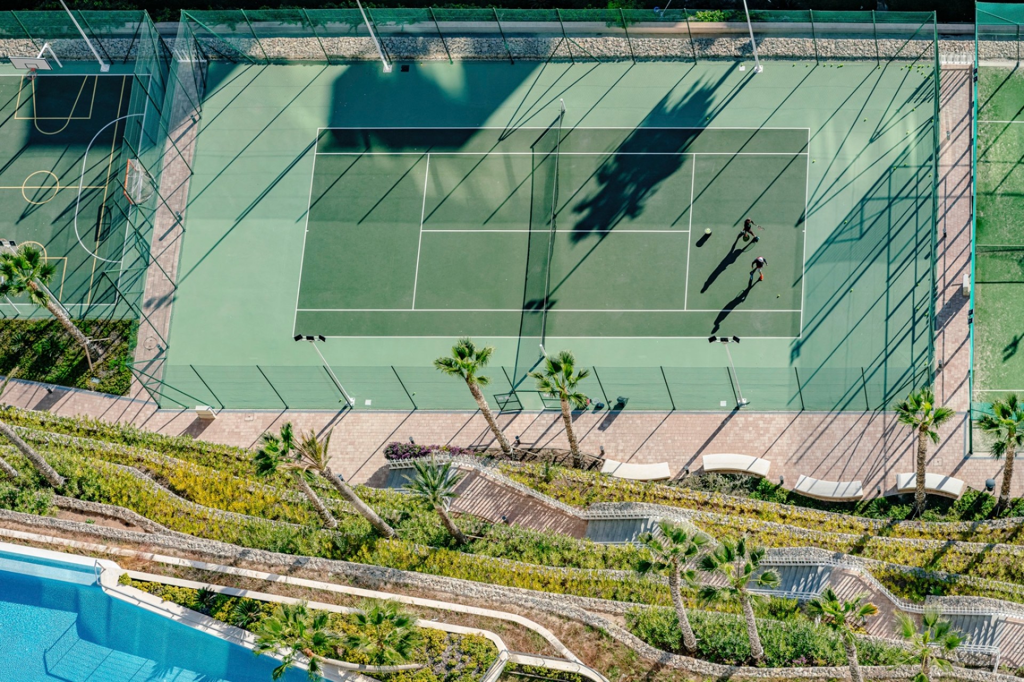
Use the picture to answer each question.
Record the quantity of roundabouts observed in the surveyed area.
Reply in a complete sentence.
The photo contains no roundabouts.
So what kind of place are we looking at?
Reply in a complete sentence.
This looks like a sports ground.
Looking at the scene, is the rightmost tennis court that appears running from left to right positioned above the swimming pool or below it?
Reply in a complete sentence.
Looking at the photo, you'll find the rightmost tennis court that appears running from left to right above the swimming pool.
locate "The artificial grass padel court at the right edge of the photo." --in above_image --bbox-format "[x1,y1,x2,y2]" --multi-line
[972,59,1024,455]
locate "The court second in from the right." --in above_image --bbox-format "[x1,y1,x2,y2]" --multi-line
[155,60,938,411]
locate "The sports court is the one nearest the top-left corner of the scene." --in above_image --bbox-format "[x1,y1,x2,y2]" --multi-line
[0,61,176,322]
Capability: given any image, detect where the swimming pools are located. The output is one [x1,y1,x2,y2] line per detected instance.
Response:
[0,544,376,682]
